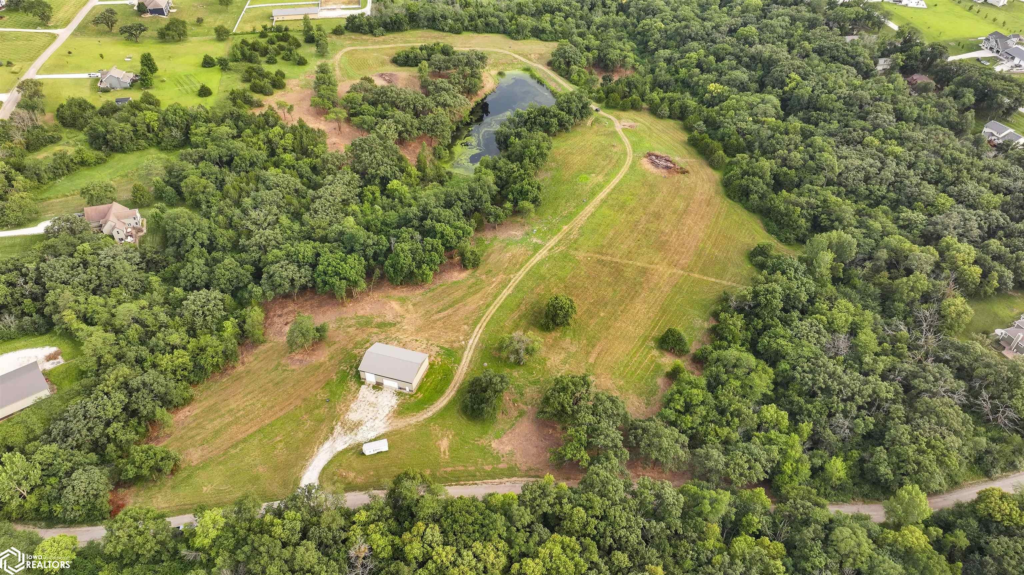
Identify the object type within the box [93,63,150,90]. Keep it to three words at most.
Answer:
house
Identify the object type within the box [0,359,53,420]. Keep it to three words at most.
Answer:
shed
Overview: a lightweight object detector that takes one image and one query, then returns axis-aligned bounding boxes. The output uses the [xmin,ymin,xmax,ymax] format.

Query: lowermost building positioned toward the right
[972,304,1024,367]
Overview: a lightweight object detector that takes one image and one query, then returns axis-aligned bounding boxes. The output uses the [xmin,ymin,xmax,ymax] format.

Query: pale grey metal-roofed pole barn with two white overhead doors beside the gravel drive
[357,341,431,394]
